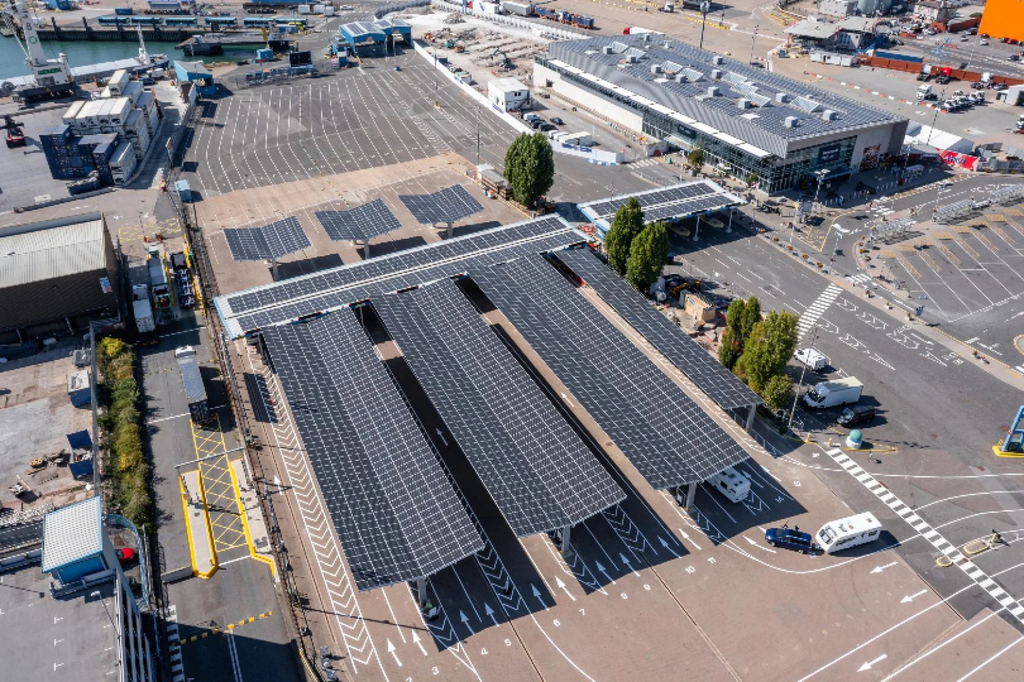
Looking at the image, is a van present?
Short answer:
Yes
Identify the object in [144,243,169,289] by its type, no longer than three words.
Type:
trailer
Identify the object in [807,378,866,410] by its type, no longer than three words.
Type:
van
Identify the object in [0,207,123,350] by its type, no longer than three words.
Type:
warehouse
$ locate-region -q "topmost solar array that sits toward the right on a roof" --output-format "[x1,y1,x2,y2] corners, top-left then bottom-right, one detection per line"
[549,36,903,138]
